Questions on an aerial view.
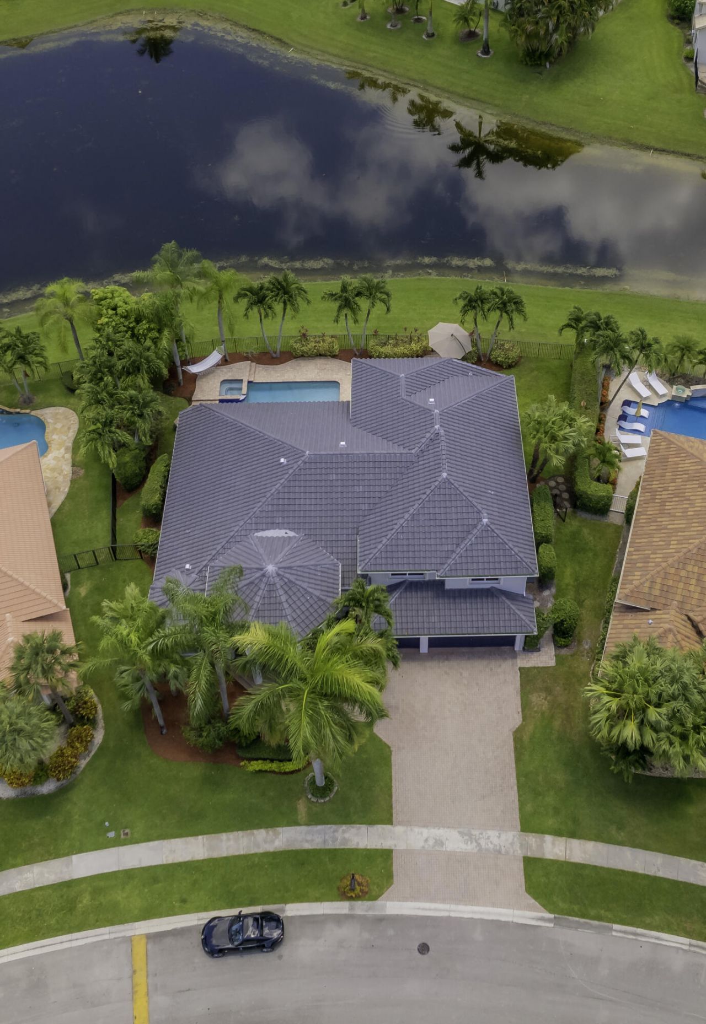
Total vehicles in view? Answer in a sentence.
There is 1 vehicle in the image.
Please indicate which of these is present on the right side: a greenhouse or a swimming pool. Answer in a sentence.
The one visible on the right side is a swimming pool.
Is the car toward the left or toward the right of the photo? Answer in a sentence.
The car sits on the left side.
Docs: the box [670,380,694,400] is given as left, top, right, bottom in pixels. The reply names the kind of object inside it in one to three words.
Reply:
fountain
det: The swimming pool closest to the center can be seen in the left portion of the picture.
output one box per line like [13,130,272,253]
[190,360,343,405]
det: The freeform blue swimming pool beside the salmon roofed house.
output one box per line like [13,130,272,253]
[0,404,53,466]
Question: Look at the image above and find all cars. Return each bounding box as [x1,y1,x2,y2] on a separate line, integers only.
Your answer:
[201,914,284,960]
